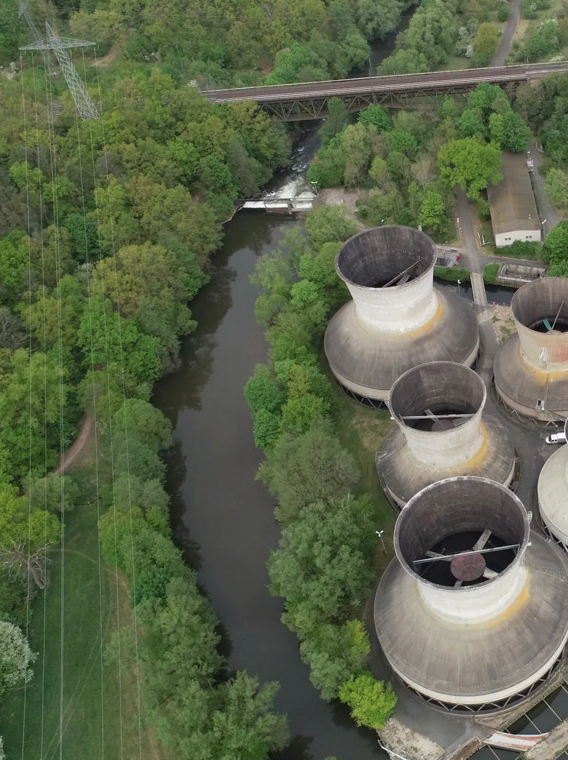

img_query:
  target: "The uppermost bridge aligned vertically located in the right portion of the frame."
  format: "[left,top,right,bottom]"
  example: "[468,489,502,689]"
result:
[471,270,490,307]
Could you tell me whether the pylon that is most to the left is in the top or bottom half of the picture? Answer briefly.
top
